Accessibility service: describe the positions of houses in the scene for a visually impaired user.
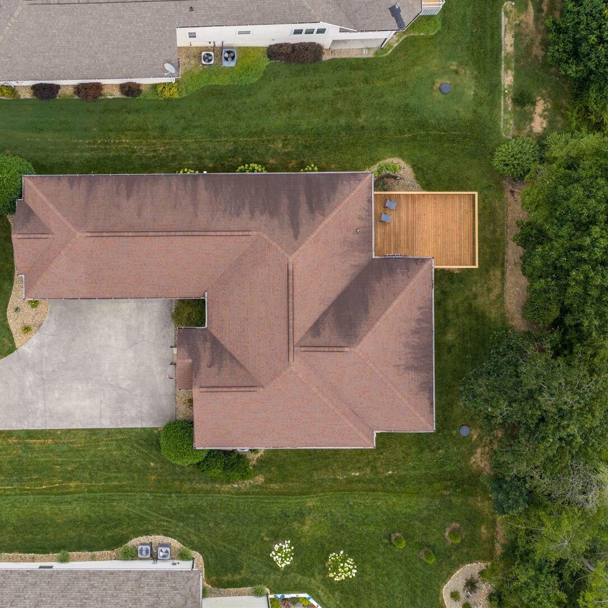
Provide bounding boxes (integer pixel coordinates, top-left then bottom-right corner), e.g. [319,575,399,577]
[0,0,424,90]
[11,170,437,451]
[0,544,272,608]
